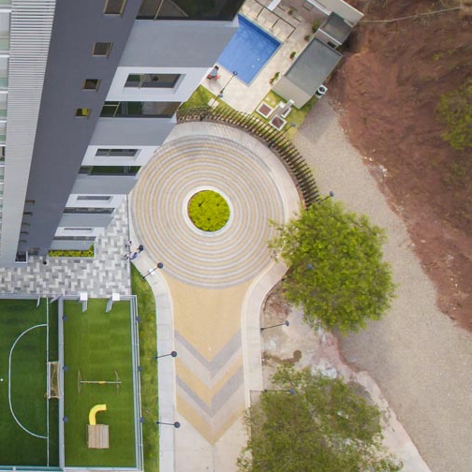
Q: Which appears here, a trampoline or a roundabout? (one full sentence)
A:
Of the two, only a roundabout appears.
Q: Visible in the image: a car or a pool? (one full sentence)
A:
I can see a pool in this picture.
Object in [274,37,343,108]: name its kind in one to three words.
building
